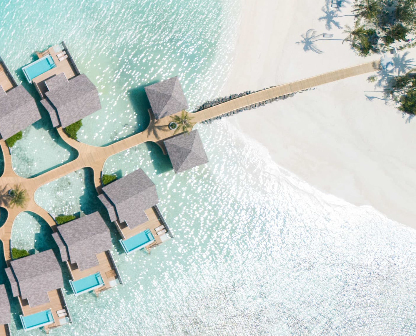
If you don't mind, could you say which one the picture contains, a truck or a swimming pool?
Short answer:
swimming pool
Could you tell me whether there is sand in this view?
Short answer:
Yes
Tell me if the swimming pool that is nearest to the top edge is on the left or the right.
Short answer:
left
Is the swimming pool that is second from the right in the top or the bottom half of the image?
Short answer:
bottom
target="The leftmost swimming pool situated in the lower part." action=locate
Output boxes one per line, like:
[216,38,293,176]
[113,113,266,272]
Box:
[19,308,54,330]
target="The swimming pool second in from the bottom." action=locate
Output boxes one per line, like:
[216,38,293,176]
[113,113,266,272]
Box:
[68,271,104,295]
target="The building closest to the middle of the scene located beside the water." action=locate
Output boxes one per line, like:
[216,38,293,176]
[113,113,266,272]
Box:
[163,129,209,174]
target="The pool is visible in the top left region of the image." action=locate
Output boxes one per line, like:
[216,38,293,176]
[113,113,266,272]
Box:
[21,55,55,85]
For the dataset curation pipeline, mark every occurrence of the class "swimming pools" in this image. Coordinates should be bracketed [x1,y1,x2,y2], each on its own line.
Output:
[117,228,153,254]
[21,55,55,85]
[68,271,104,295]
[19,308,54,330]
